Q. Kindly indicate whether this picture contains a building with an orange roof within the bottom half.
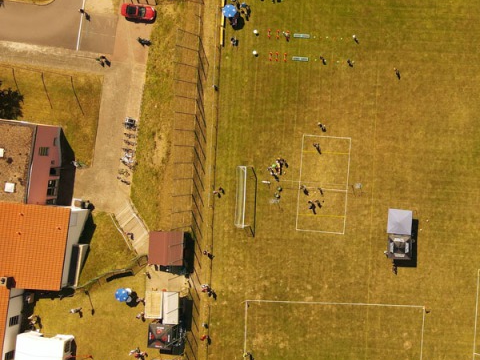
Yes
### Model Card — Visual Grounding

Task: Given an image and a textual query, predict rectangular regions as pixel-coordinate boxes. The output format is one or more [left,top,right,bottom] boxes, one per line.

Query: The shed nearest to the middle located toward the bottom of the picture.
[146,233,187,268]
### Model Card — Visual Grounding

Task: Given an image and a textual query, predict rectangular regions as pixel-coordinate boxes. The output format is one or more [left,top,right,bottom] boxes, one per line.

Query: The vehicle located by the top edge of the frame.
[123,5,156,22]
